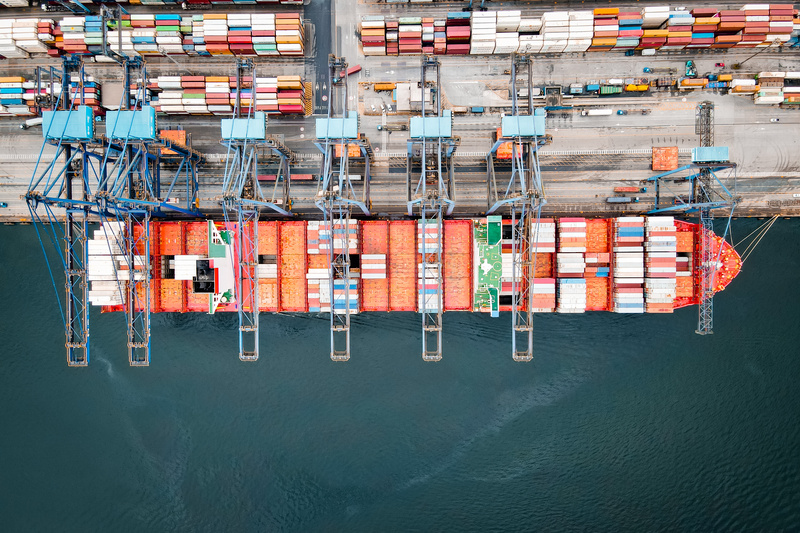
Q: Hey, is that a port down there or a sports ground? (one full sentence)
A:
It's a port.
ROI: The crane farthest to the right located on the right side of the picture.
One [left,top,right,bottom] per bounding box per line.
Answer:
[639,96,752,334]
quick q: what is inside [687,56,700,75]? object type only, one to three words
vehicle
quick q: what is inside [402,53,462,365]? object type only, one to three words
container crane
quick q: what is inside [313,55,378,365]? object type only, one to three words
container crane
